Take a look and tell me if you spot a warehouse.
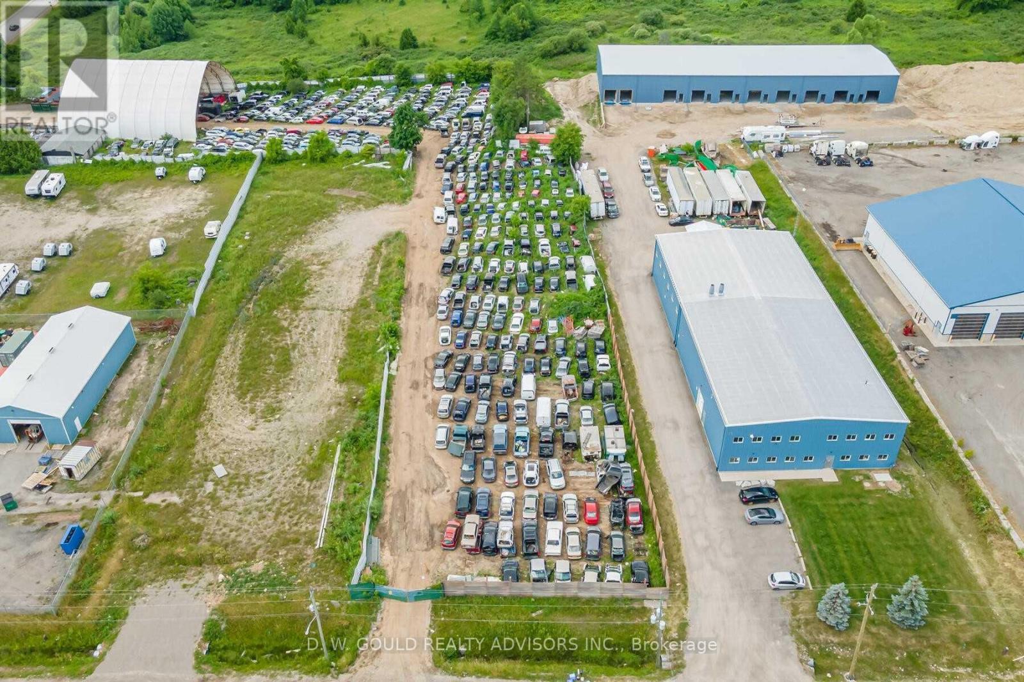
Yes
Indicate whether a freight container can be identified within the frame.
Yes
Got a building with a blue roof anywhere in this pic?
Yes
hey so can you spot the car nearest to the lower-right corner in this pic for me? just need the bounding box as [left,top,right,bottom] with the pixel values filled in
[765,572,808,592]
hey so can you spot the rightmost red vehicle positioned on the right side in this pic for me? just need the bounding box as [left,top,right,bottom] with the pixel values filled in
[903,321,920,340]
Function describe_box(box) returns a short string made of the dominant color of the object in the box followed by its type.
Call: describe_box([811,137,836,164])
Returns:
white truck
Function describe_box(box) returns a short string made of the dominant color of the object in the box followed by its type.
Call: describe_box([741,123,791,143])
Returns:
white camper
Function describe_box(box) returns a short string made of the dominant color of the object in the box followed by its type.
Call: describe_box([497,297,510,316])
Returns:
white vehicle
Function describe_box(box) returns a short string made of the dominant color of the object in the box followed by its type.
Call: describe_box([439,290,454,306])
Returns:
white car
